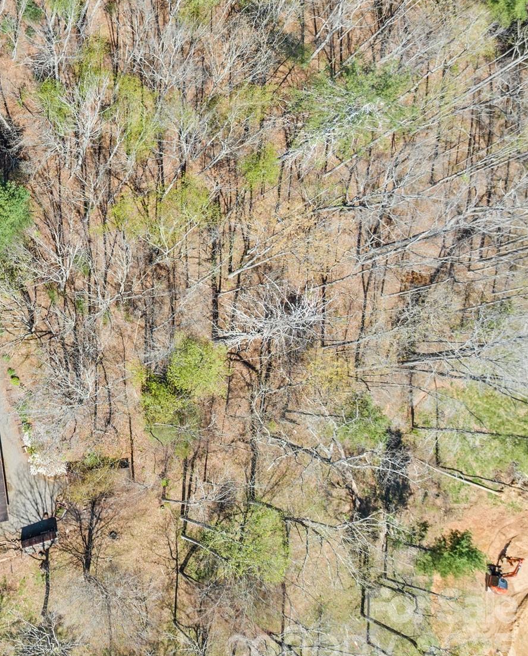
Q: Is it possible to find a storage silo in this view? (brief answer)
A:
No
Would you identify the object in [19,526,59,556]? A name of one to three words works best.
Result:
shed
